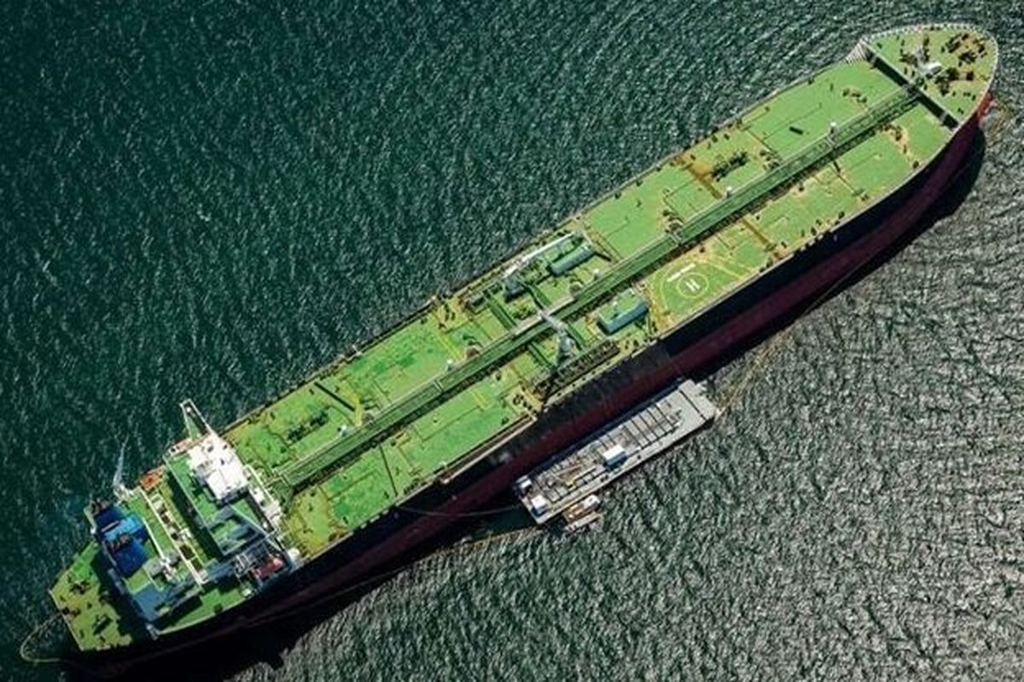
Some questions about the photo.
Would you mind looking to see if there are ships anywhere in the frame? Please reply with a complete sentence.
Yes, the picture does show a ship.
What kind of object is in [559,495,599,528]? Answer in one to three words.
boat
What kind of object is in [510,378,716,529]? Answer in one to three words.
ship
